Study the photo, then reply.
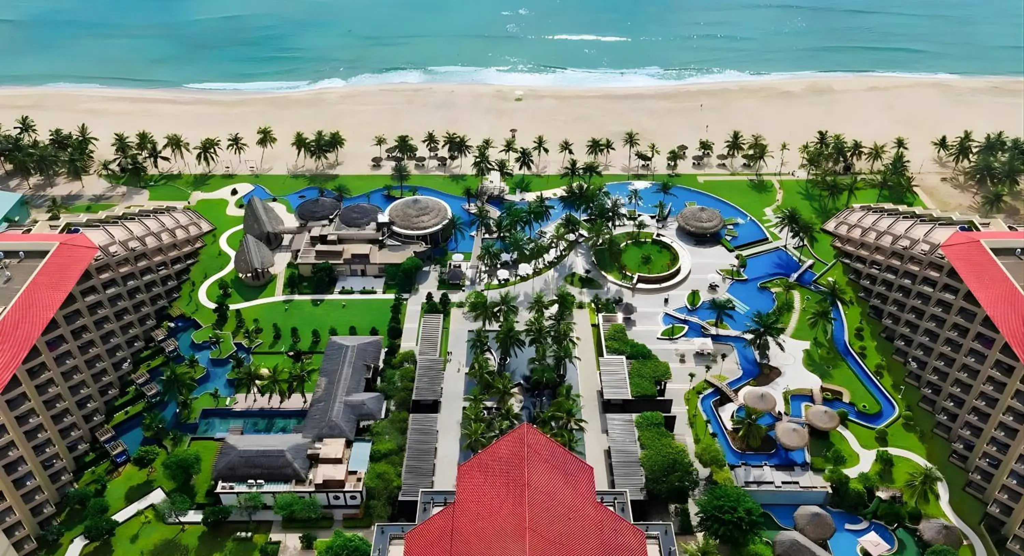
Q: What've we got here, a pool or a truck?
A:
pool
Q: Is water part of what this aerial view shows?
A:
Yes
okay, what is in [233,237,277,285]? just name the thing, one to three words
shed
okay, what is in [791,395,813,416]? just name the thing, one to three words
swimming pool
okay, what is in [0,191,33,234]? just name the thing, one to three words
building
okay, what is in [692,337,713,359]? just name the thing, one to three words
tent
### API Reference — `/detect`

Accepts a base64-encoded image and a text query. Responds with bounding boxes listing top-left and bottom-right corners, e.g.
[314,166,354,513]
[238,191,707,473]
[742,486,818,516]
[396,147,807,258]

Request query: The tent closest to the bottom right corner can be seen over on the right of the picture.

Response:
[853,531,891,556]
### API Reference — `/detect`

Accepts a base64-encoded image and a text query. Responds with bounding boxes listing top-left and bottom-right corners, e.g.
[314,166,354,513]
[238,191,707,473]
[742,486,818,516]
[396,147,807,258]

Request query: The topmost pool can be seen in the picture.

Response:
[243,181,765,251]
